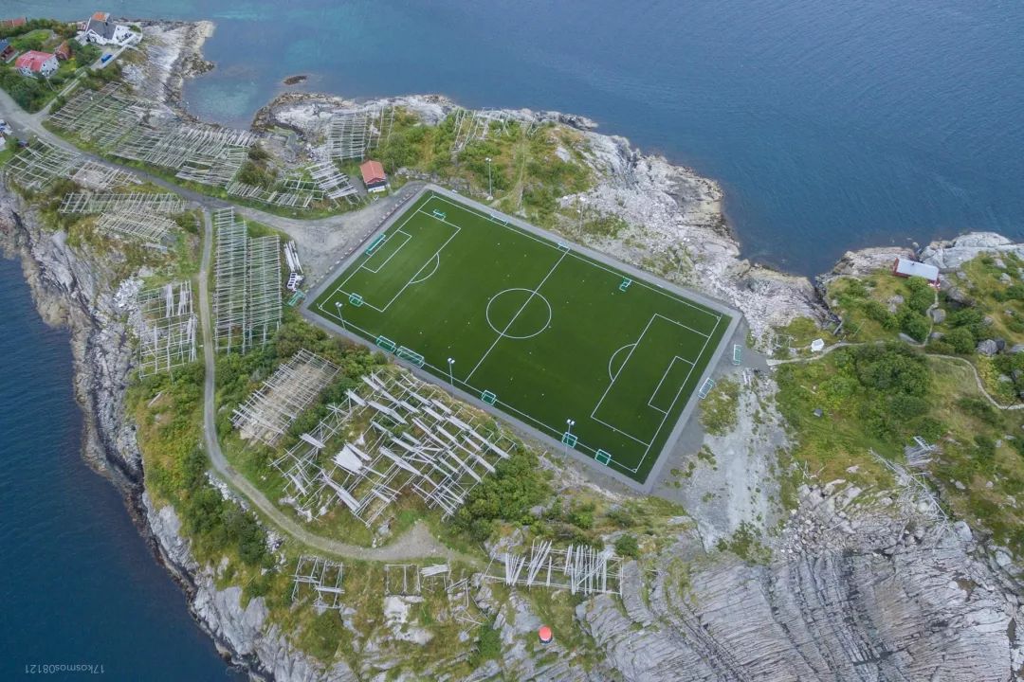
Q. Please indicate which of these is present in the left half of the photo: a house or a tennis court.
house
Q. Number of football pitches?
1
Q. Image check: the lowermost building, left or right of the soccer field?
on the right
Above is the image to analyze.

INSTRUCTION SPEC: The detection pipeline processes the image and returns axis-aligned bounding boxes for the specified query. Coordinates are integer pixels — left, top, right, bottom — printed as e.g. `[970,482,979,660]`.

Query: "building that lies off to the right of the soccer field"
[892,258,938,289]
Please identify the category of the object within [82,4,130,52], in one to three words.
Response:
house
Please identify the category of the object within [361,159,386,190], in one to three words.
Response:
shed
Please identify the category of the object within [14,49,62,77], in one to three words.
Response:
house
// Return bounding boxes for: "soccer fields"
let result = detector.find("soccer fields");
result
[300,183,743,493]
